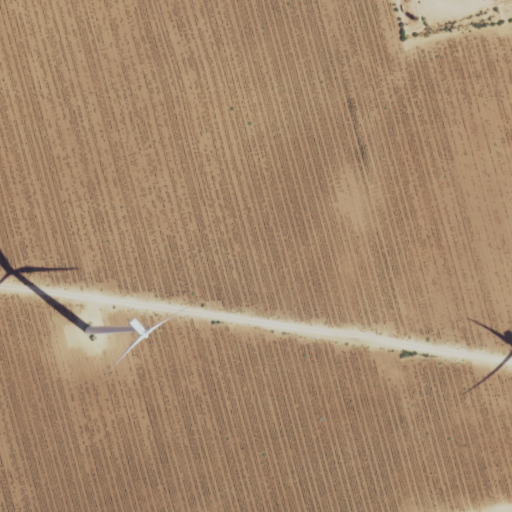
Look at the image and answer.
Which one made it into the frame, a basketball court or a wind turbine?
wind turbine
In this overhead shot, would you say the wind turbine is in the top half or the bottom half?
bottom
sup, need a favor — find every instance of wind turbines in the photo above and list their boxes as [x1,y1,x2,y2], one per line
[84,306,189,376]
